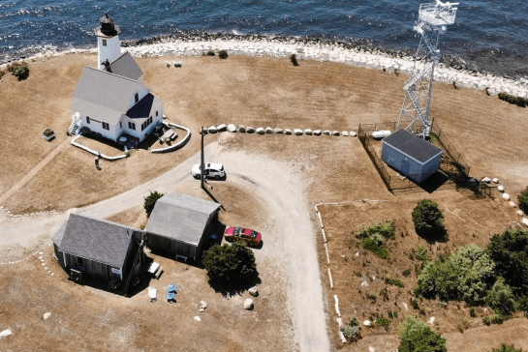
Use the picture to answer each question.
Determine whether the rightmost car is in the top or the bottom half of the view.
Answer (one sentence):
The bottom half of the photo is where the rightmost car is.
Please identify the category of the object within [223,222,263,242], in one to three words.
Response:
car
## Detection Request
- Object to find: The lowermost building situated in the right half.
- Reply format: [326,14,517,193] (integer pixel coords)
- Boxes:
[381,128,443,183]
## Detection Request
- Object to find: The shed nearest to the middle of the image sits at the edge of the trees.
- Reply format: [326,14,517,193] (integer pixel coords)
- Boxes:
[146,192,221,259]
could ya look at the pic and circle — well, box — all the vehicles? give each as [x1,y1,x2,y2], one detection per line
[192,158,226,174]
[223,222,263,242]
